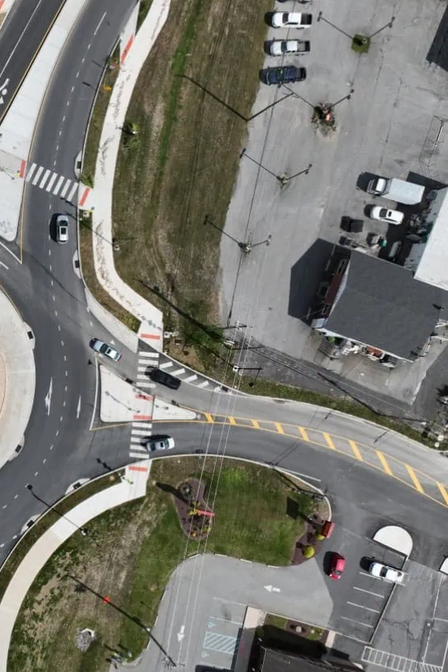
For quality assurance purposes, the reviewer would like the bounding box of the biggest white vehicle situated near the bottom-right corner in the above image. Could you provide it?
[367,562,408,585]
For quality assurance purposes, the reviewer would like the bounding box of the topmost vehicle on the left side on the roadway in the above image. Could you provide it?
[55,213,70,244]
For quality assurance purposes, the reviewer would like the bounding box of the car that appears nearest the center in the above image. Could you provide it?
[146,366,183,391]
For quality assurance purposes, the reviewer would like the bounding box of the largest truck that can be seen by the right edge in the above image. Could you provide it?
[368,175,428,202]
